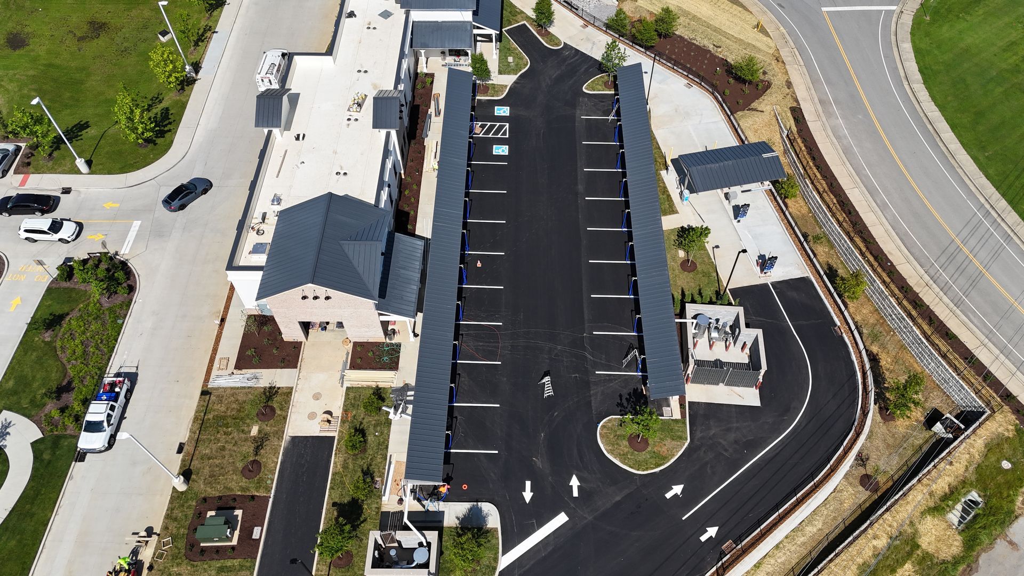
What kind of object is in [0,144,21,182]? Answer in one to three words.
car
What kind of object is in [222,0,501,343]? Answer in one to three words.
building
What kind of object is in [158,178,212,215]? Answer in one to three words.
car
